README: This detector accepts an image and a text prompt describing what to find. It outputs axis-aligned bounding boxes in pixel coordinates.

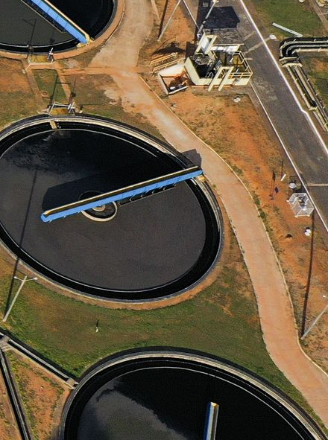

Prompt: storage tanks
[0,114,229,310]
[52,348,328,440]
[0,0,122,59]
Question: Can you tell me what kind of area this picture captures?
industrial area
